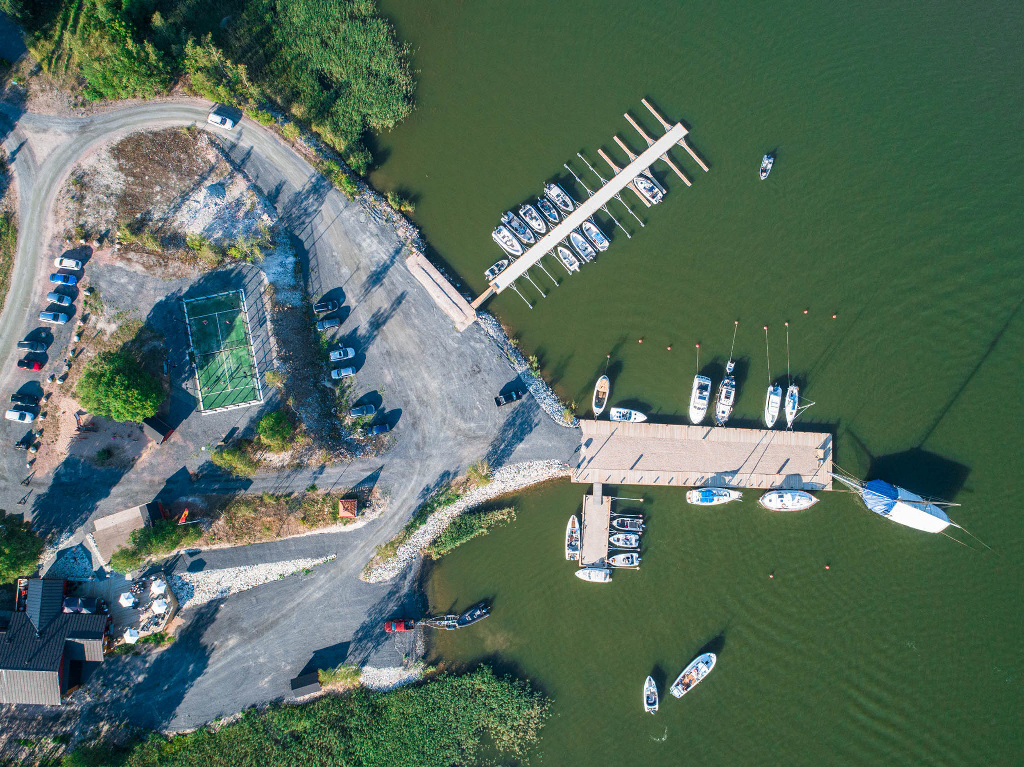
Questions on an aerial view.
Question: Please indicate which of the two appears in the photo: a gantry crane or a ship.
ship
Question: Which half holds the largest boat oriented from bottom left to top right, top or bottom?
bottom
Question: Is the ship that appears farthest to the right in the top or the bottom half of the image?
bottom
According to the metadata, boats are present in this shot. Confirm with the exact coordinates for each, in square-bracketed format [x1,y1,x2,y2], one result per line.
[520,204,545,233]
[685,487,742,505]
[608,553,642,567]
[501,212,534,243]
[583,222,609,252]
[559,247,578,271]
[491,224,524,256]
[538,198,558,222]
[592,375,610,416]
[575,567,614,583]
[759,490,820,511]
[668,653,716,701]
[612,517,647,530]
[764,383,782,426]
[545,183,573,212]
[785,383,811,426]
[455,601,490,627]
[571,232,597,262]
[610,407,648,422]
[726,360,736,373]
[484,261,508,279]
[643,675,658,715]
[760,152,772,180]
[635,176,661,205]
[565,515,580,563]
[688,375,711,424]
[609,532,643,548]
[714,375,739,425]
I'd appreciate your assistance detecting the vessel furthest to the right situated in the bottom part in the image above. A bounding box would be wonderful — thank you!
[827,471,965,534]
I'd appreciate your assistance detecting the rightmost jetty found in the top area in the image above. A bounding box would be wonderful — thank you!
[488,98,709,309]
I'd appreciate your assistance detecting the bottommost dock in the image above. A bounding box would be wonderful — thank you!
[578,494,644,570]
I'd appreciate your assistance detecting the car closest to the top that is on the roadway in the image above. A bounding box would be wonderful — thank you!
[206,114,236,133]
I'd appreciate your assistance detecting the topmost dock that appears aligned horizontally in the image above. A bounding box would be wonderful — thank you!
[571,419,833,491]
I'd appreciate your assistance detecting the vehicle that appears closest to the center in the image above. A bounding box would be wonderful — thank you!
[494,389,524,407]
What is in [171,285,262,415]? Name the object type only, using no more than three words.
sports court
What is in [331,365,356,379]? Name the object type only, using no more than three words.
car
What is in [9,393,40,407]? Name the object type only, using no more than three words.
car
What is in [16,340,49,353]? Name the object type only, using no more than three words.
vehicle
